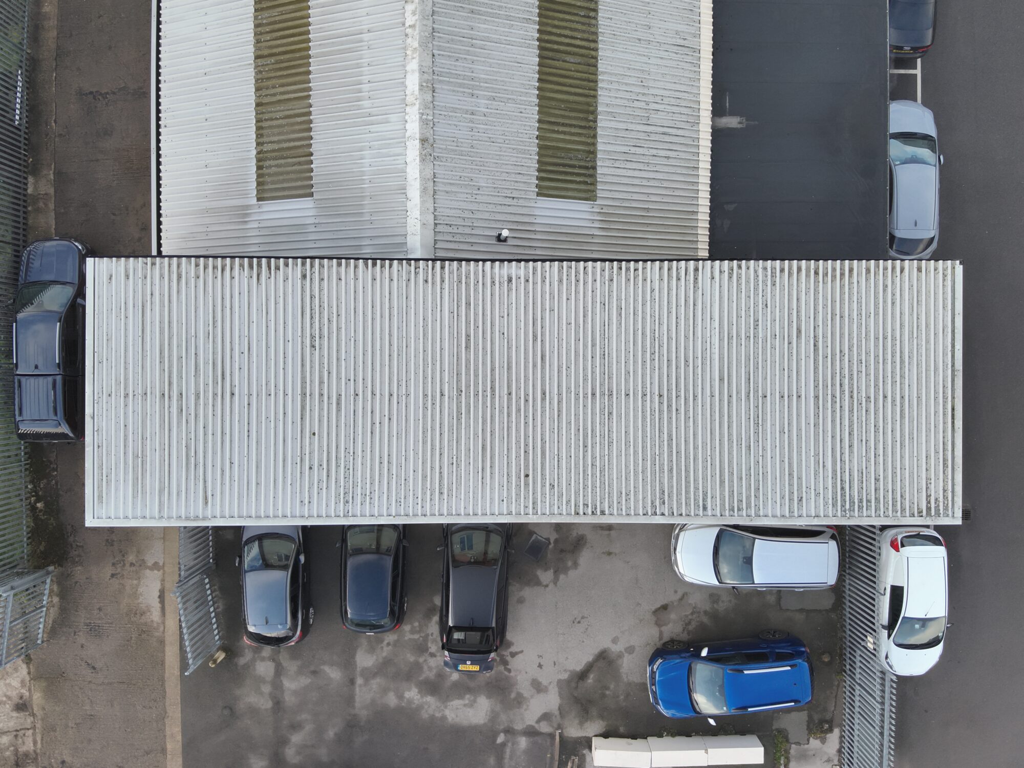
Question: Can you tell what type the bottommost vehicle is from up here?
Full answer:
What you see as the bottommost vehicle is an automobile.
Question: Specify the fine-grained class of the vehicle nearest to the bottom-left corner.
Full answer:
The vehicle nearest to the bottom-left corner appears to be a car.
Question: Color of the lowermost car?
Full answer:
The lowermost car is blue.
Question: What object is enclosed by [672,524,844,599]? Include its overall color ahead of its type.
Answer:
white car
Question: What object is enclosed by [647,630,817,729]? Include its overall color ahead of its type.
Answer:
blue car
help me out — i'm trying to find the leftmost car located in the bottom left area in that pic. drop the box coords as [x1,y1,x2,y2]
[227,527,317,648]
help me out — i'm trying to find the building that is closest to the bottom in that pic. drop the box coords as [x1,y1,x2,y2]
[86,254,963,528]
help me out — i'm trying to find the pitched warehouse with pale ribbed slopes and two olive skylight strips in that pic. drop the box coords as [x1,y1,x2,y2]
[152,0,715,257]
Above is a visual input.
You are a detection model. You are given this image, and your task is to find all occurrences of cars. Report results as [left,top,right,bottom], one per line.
[647,630,817,729]
[227,527,317,648]
[890,0,937,58]
[889,99,949,258]
[431,526,514,671]
[867,528,956,676]
[672,524,844,599]
[329,527,413,634]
